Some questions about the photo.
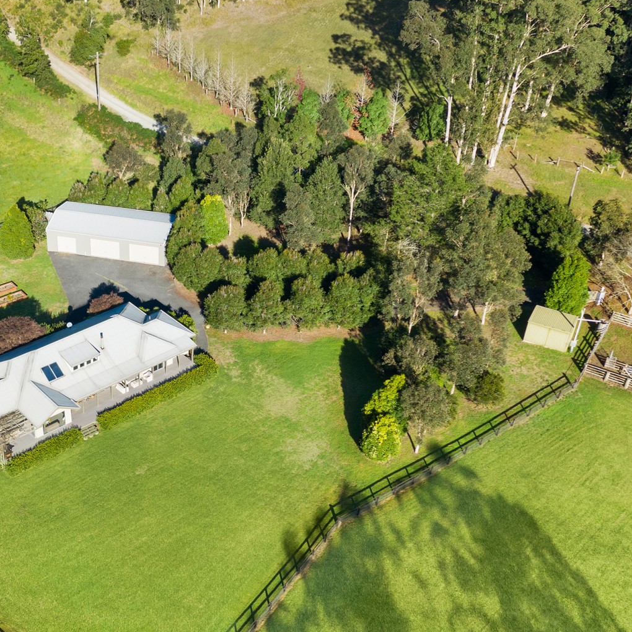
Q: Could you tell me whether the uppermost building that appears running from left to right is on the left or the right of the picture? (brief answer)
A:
left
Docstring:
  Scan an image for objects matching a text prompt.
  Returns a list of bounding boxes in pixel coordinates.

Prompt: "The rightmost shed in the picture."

[523,307,575,353]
